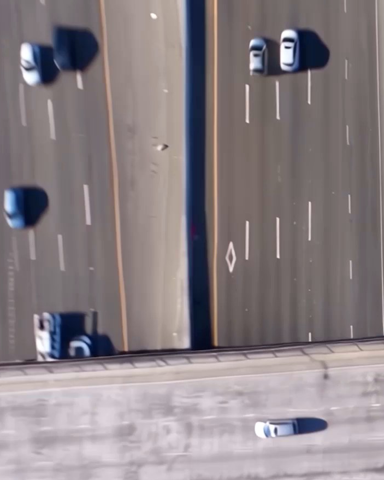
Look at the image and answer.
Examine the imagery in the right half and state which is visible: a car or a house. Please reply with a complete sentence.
What appears in the right half is a car.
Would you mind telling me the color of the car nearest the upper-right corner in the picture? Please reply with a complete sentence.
The car nearest the upper-right corner looks white in the image.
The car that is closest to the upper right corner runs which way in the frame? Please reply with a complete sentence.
I'd say the car that is closest to the upper right corner is aligned up and down in the picture.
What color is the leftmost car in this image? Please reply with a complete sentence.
The leftmost car is blue.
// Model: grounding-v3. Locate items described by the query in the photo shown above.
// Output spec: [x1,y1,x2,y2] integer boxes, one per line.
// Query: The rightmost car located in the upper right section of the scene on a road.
[279,29,300,72]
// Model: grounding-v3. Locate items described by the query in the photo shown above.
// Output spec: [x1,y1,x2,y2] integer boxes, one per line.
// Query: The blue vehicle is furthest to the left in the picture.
[3,187,29,230]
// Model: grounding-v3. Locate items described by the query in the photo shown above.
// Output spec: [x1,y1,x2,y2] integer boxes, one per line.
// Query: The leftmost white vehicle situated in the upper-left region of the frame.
[18,41,44,86]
